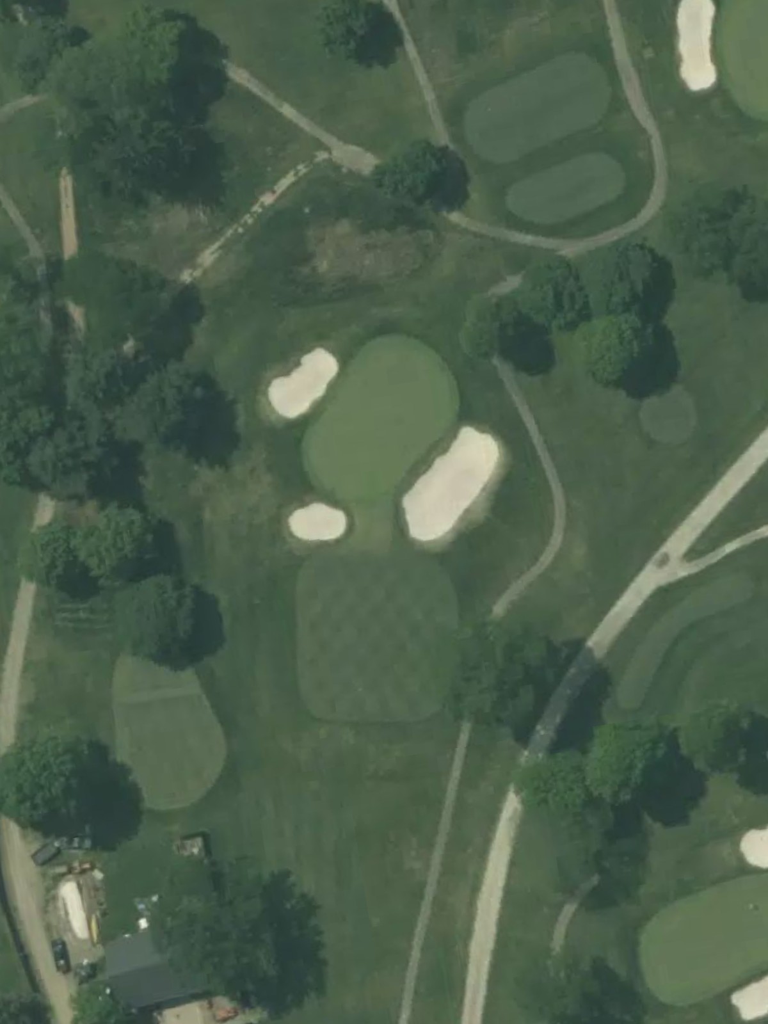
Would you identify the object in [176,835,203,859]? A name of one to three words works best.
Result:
shed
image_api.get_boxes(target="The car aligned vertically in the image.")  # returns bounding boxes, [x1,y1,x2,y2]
[51,939,71,974]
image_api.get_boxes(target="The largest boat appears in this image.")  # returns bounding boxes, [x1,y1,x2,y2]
[63,880,86,939]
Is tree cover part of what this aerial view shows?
Yes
